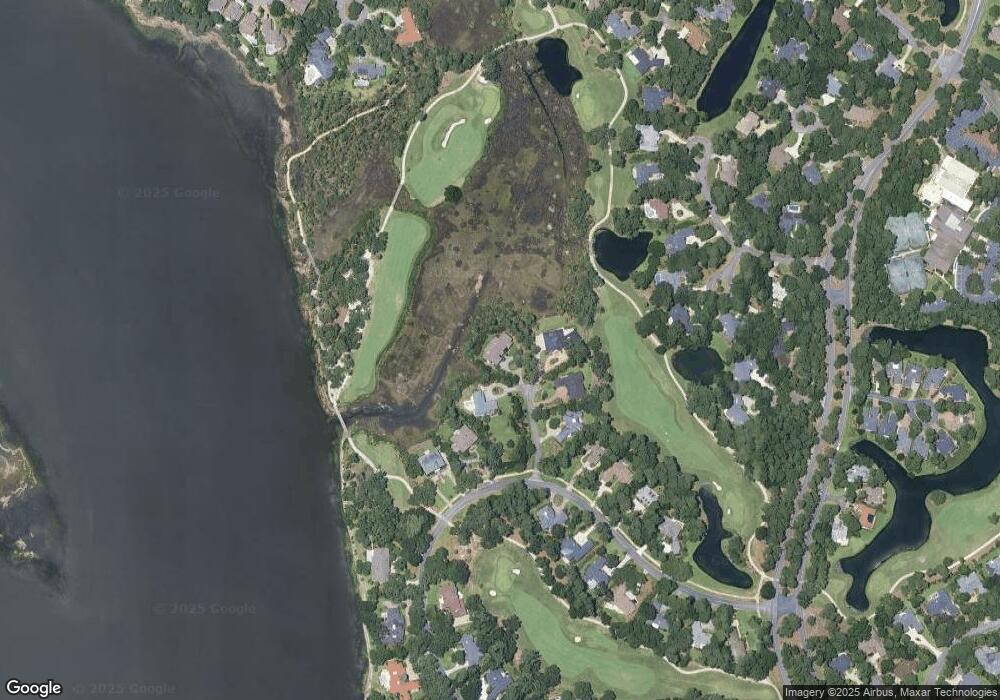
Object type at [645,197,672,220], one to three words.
house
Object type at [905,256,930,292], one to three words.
tennis court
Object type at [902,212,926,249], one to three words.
tennis court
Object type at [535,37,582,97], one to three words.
pond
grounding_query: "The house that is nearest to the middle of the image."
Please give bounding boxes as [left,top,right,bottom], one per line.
[482,331,515,367]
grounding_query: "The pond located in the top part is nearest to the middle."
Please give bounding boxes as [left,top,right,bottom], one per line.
[593,228,653,281]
